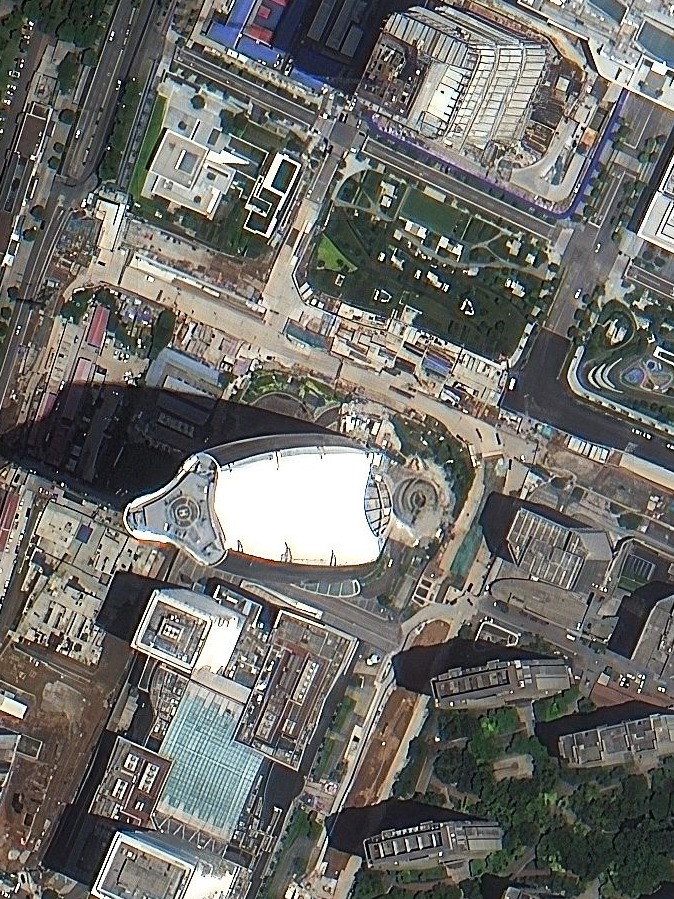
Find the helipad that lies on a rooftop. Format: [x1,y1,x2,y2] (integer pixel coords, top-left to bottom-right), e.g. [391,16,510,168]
[168,494,200,529]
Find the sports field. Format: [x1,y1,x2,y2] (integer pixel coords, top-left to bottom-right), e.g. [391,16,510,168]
[400,188,471,241]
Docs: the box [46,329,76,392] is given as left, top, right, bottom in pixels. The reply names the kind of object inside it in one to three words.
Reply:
shed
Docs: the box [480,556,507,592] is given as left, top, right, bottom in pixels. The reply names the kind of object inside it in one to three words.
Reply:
building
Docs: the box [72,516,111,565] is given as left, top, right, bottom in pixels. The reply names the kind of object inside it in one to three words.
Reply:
building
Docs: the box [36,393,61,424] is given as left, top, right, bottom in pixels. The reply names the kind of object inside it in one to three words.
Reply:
shed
